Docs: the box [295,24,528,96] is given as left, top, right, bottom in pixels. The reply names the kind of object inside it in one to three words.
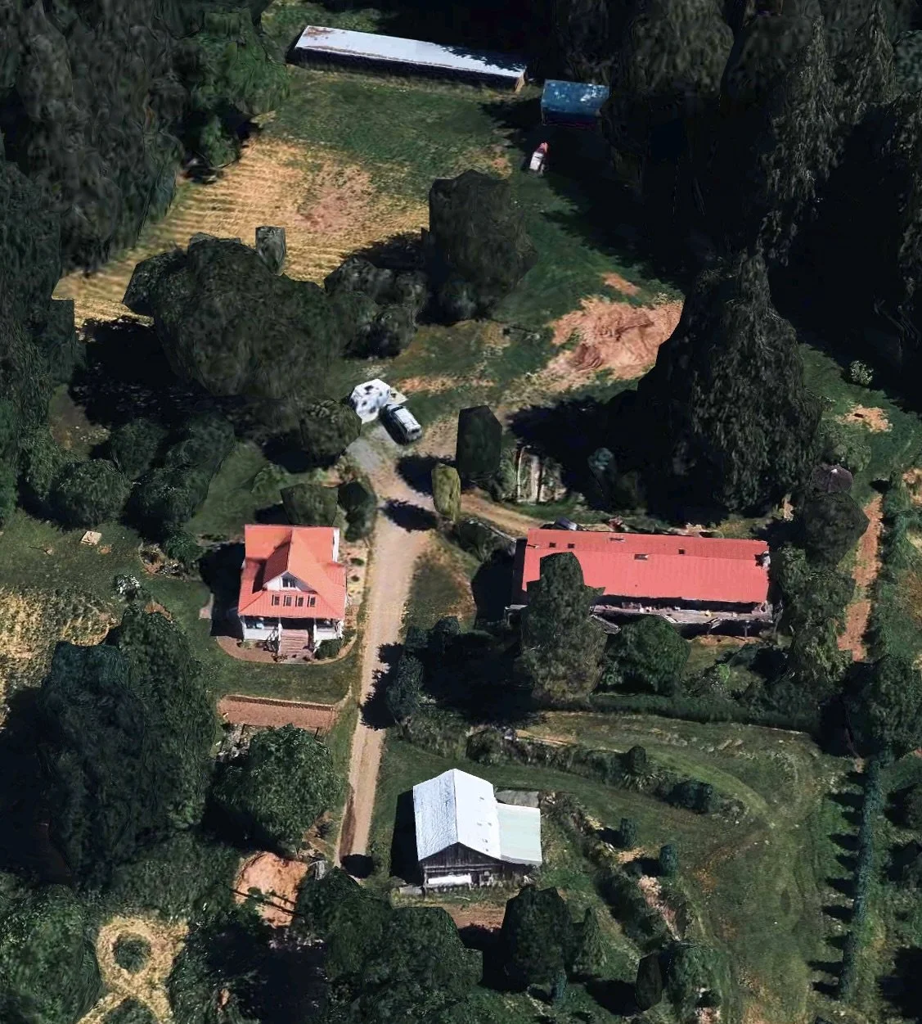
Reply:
shed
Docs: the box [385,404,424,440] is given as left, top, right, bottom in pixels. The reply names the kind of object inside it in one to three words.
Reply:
car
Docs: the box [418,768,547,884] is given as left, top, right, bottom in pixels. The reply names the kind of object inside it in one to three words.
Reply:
barn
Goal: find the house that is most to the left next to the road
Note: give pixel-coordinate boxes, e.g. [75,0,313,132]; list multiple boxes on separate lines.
[237,530,352,657]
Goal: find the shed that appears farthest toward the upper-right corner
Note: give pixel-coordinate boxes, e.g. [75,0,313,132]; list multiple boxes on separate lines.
[540,82,609,132]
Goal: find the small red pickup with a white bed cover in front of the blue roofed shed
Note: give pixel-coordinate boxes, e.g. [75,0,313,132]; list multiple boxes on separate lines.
[528,142,549,171]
